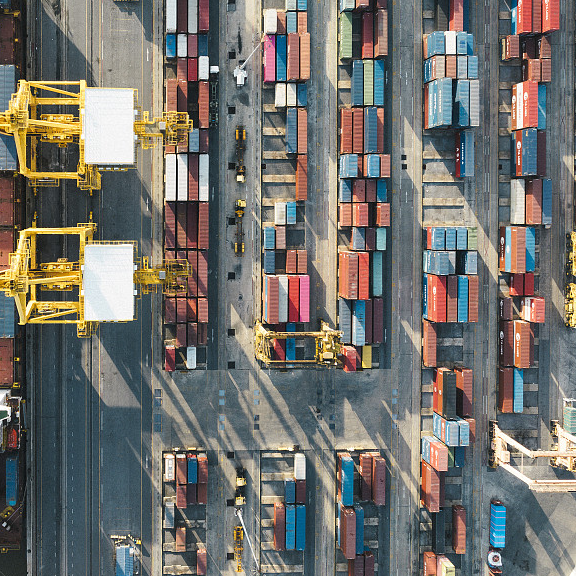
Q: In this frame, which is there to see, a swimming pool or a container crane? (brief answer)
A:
container crane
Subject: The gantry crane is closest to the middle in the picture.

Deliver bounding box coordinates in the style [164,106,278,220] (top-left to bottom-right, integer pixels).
[253,316,351,366]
